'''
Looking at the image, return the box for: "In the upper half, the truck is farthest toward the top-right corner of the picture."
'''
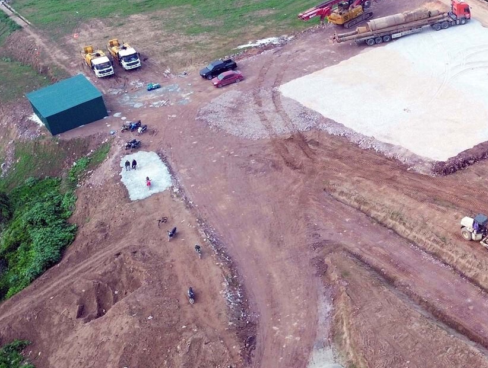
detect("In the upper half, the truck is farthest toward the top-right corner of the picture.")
[354,1,476,45]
